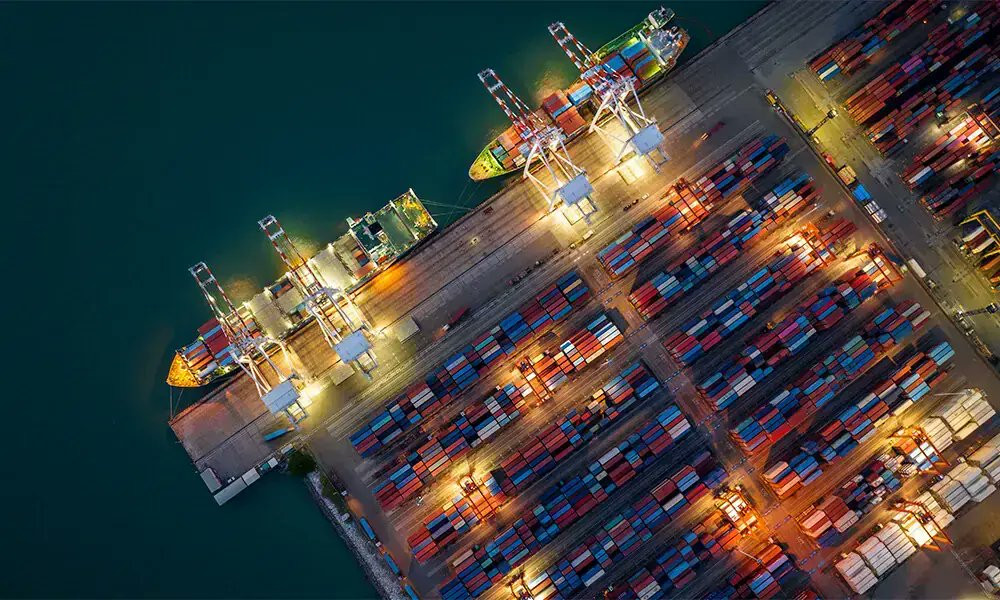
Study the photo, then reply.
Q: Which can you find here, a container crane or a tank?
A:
container crane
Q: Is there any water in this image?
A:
Yes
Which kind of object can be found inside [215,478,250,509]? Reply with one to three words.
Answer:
shed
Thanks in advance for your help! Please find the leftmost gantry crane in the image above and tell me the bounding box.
[190,260,318,426]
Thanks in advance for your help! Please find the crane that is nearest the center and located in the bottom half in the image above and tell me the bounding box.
[511,354,558,405]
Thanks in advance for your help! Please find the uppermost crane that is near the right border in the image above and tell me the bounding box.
[939,99,1000,159]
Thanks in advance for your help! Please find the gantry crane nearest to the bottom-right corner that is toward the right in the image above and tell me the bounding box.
[887,495,959,556]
